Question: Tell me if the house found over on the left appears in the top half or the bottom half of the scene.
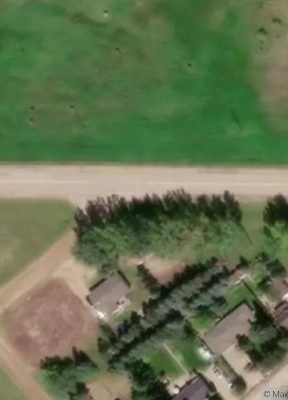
bottom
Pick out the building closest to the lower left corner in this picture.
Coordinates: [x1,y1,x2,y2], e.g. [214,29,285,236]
[87,273,130,315]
